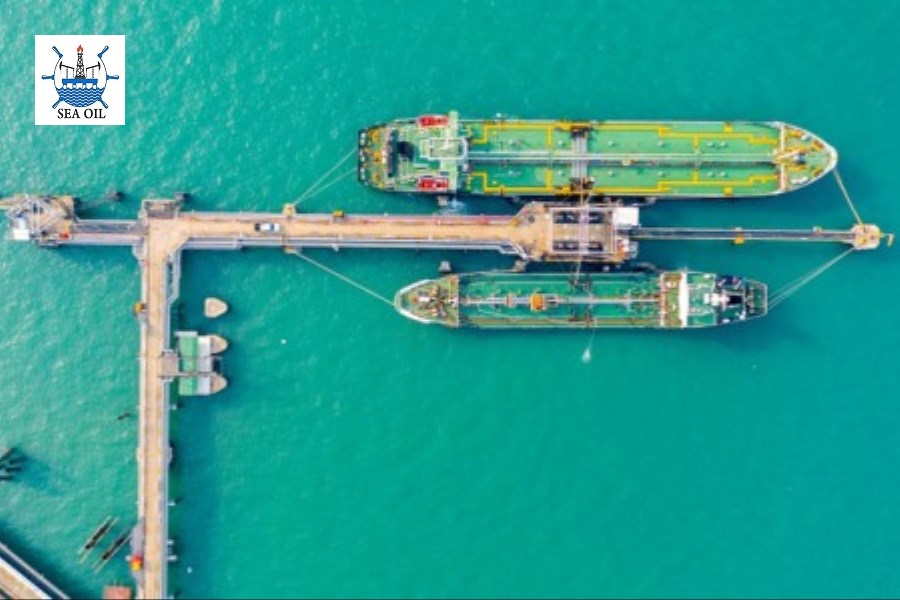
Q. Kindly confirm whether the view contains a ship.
Yes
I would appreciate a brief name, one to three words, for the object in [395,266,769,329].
ship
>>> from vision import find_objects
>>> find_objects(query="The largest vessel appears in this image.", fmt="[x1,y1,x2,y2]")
[359,111,838,199]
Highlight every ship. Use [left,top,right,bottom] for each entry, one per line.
[359,111,838,199]
[395,266,769,329]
